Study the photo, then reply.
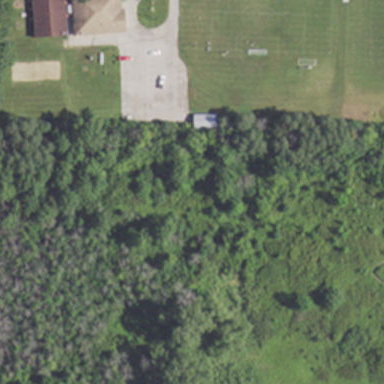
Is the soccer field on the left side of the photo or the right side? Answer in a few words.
right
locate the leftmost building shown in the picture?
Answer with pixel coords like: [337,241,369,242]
[32,0,68,36]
